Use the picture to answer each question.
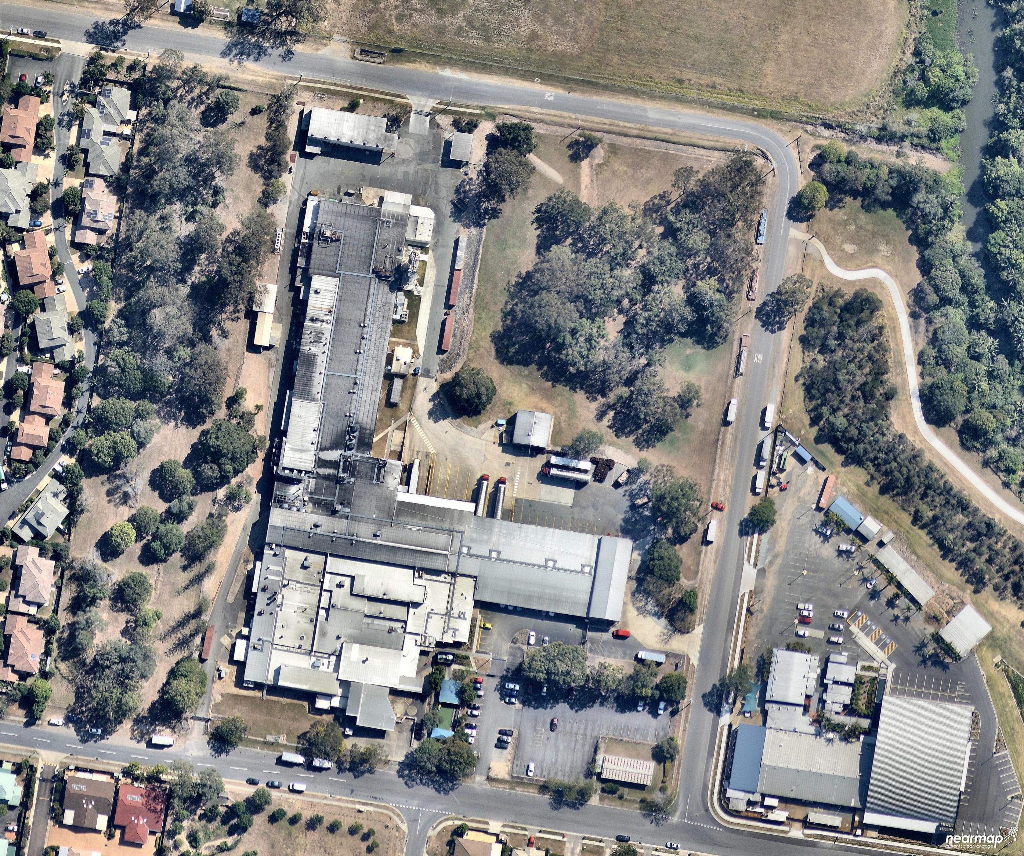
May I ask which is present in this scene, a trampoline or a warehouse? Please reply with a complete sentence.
Visible in the photo is a warehouse.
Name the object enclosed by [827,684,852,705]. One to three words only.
building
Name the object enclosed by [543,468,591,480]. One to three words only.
vehicle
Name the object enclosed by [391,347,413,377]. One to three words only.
shed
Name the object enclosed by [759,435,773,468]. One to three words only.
vehicle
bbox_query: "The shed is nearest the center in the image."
[513,410,553,449]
